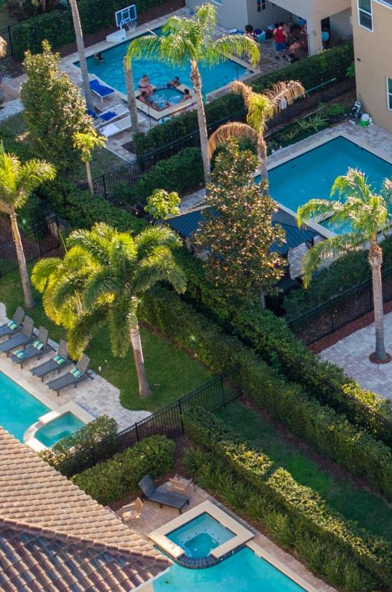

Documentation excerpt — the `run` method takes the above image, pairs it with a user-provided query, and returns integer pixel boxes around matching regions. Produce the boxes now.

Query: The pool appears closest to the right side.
[245,129,392,245]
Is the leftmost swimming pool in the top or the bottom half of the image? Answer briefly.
bottom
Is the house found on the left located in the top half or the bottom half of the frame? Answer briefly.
bottom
